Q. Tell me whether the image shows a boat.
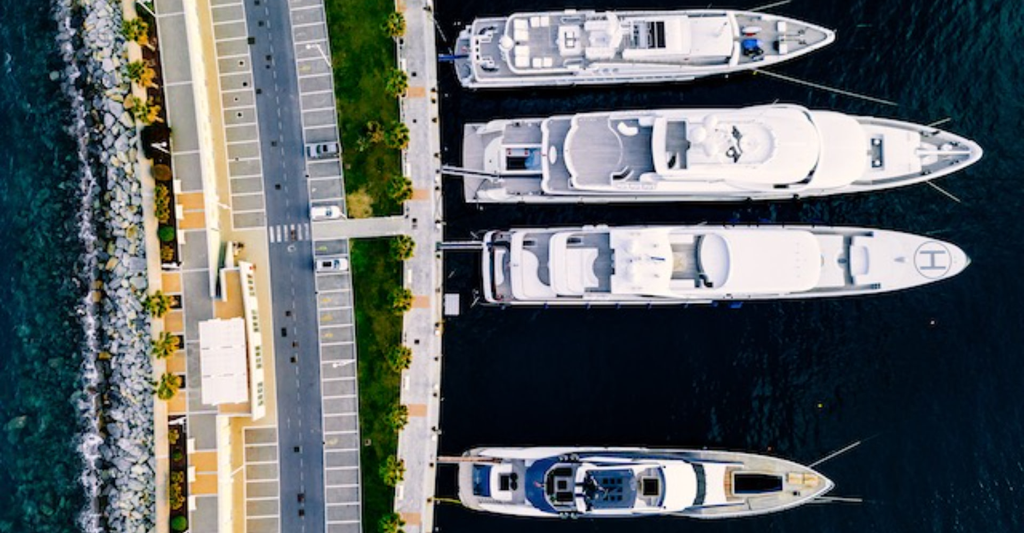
Yes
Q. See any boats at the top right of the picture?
Yes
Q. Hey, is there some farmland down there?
No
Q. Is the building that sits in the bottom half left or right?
left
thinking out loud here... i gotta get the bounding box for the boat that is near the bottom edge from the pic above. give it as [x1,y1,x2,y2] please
[460,444,833,519]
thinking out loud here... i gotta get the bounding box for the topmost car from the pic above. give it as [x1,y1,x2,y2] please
[308,143,339,158]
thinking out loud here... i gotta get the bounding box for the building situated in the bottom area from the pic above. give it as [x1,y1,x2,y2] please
[201,262,265,418]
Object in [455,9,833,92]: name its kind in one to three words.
boat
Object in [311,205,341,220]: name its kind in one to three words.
car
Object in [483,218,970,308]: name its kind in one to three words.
boat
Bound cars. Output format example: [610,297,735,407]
[311,205,341,220]
[308,143,339,158]
[316,257,347,272]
